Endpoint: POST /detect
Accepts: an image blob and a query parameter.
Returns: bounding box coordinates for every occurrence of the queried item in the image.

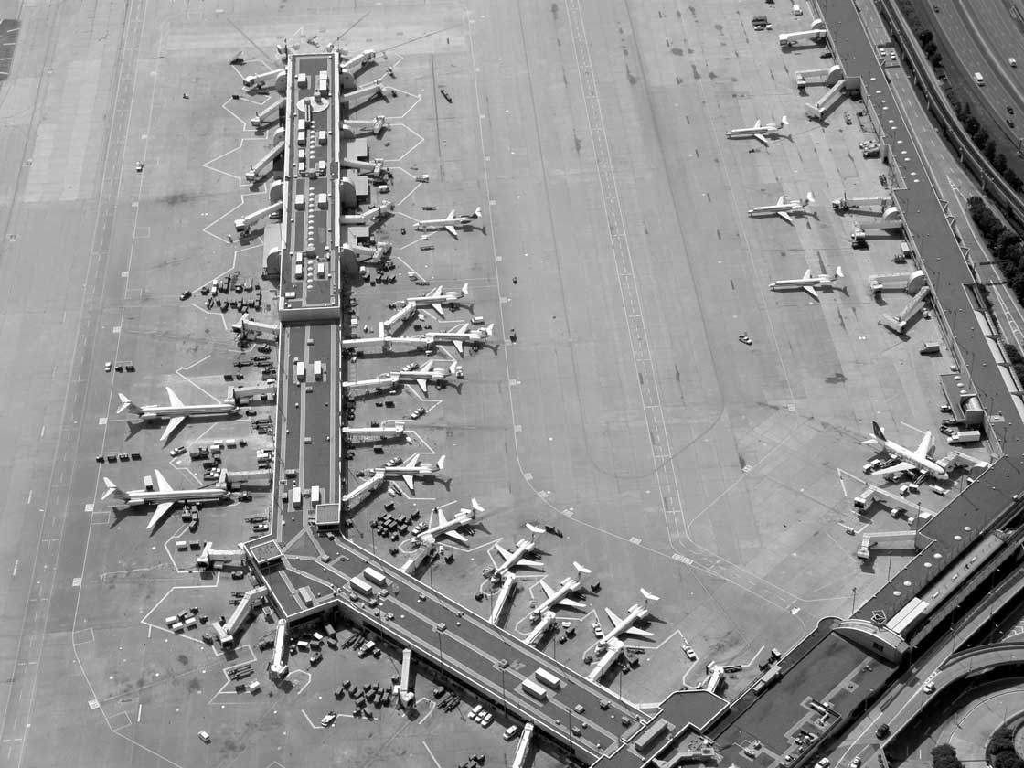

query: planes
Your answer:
[410,497,487,544]
[770,264,844,295]
[101,468,231,526]
[531,561,596,622]
[398,358,457,390]
[396,281,470,313]
[863,419,948,480]
[413,203,483,233]
[596,592,659,655]
[491,523,550,583]
[116,387,240,440]
[418,319,493,350]
[749,191,818,220]
[727,113,791,141]
[384,452,447,488]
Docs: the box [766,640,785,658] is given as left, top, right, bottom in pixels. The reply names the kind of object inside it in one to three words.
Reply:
vehicle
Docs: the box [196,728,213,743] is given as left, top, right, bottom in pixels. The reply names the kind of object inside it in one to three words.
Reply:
vehicle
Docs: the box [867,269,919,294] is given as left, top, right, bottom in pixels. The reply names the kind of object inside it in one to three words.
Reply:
jet bridge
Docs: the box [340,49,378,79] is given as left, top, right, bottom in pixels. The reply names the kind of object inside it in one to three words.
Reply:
jet bridge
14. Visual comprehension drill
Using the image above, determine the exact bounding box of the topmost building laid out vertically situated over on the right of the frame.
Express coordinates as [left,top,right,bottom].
[811,0,1024,625]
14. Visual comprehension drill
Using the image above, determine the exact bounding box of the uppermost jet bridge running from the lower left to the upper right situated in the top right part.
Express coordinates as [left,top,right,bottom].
[803,80,843,121]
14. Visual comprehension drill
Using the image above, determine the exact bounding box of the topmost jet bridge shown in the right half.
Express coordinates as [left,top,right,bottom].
[776,30,826,50]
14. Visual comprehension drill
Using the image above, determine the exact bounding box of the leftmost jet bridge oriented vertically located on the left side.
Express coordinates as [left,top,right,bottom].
[270,616,291,683]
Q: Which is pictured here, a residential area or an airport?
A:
airport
